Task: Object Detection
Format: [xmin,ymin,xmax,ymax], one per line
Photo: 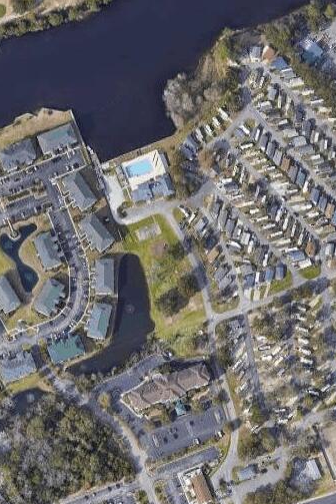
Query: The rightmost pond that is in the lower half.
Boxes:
[63,253,154,374]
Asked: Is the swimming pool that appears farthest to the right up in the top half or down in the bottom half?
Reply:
top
